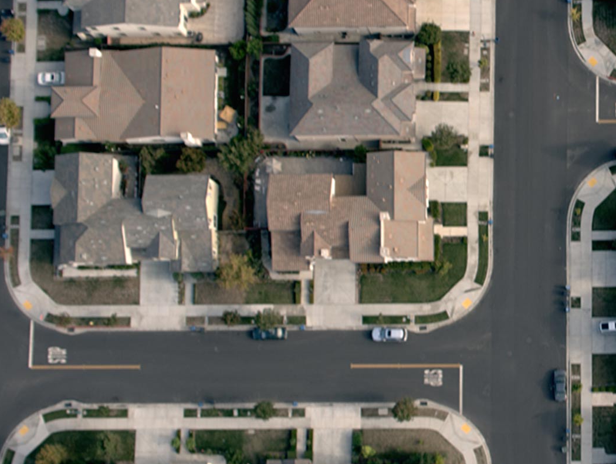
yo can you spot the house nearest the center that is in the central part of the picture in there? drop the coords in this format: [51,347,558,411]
[265,150,437,274]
